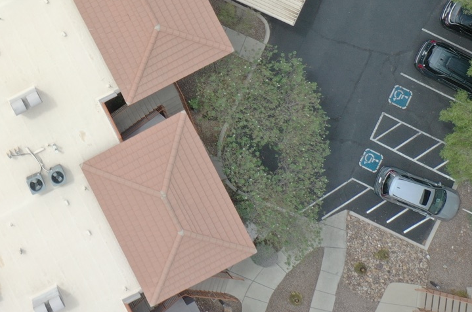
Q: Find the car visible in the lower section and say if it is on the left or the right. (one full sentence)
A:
You can find the car visible in the lower section on the right side of the picture.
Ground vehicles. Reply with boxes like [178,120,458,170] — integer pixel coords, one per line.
[406,44,472,111]
[366,165,460,226]
[435,0,472,47]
